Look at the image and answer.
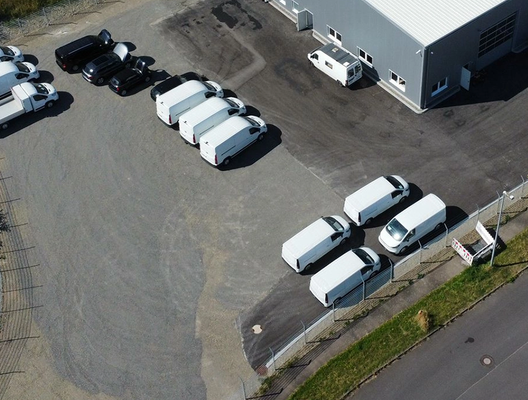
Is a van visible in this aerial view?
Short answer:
Yes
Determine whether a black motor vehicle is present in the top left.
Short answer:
Yes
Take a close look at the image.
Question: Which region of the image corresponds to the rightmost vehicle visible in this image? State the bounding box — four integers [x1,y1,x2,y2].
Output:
[378,188,450,255]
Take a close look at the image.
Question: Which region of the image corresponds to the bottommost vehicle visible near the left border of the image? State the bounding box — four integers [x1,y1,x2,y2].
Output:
[0,80,59,130]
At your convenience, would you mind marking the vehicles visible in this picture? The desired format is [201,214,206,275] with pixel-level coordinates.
[179,94,247,146]
[157,78,224,128]
[280,213,353,275]
[0,42,26,61]
[103,59,151,97]
[198,112,267,166]
[0,80,59,130]
[313,41,366,86]
[378,188,450,255]
[81,39,136,85]
[155,65,207,96]
[306,245,383,308]
[51,24,115,72]
[341,175,411,230]
[0,58,41,96]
